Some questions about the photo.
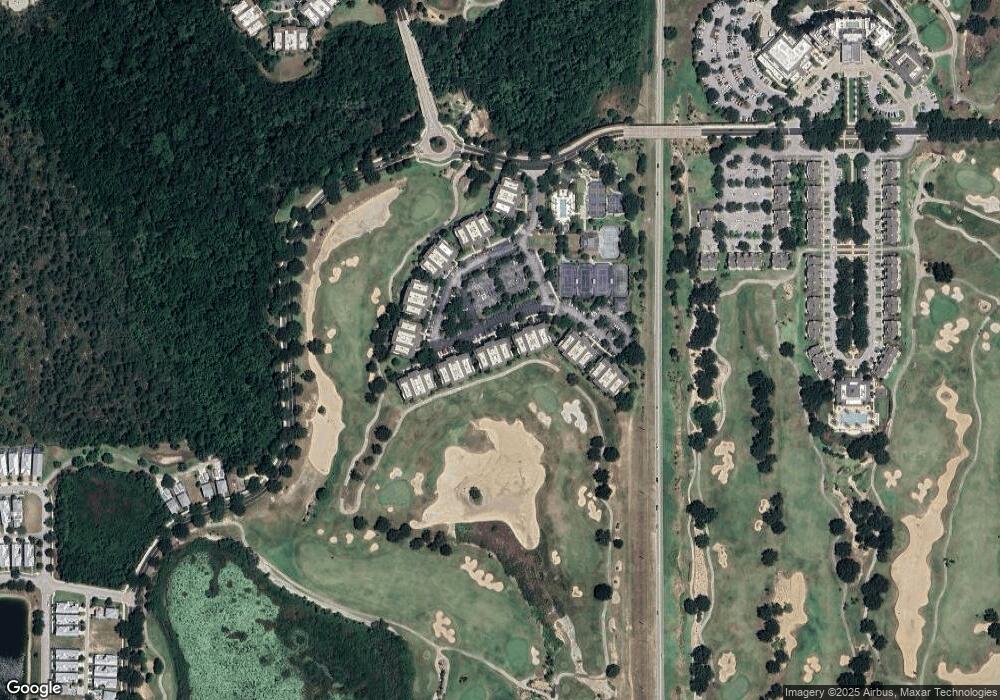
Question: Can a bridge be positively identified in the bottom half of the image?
No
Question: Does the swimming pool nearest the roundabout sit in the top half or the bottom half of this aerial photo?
top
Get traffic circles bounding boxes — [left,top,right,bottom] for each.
[421,128,456,161]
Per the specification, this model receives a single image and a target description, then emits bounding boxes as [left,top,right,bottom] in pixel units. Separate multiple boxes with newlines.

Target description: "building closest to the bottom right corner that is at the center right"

[834,377,875,425]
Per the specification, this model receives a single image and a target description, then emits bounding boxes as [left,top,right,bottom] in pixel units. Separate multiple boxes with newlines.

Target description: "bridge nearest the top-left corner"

[398,20,438,122]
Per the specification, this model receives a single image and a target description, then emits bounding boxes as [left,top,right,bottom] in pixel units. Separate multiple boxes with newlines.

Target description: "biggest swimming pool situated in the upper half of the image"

[552,189,575,226]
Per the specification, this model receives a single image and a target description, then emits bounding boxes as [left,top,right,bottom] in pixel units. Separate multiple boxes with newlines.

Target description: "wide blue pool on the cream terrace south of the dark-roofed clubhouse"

[828,405,879,435]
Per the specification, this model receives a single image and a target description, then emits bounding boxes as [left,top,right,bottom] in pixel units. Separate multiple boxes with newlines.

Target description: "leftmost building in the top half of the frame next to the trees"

[229,0,267,35]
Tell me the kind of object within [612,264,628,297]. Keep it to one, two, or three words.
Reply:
tennis court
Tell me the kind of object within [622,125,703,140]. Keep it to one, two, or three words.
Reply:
overpass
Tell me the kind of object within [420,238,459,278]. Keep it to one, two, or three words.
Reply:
building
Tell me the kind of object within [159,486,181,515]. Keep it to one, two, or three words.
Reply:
house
